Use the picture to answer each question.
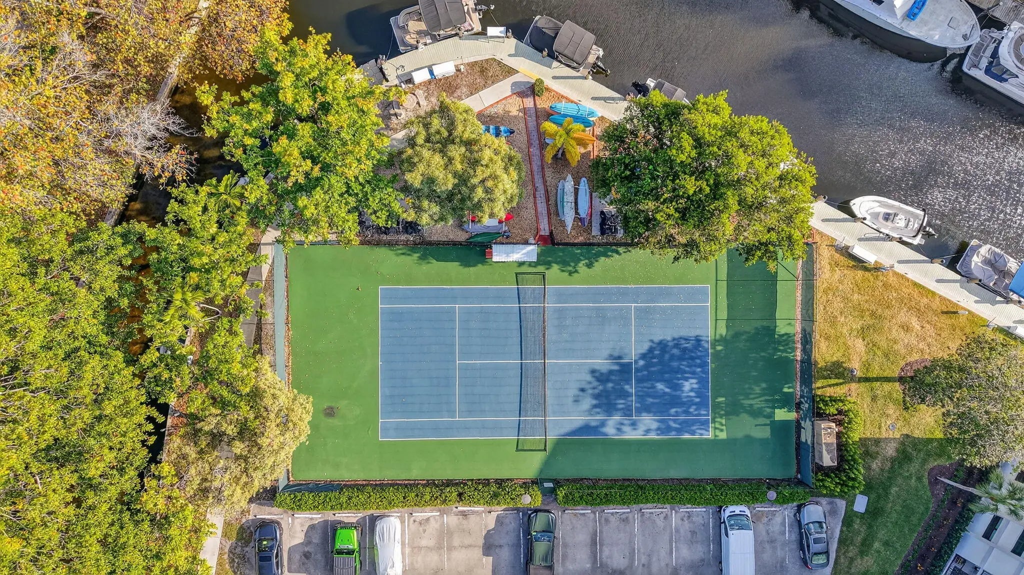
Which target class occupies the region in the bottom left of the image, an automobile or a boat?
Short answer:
automobile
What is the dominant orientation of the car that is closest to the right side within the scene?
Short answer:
from top to bottom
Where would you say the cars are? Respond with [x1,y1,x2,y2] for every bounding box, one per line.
[799,504,835,574]
[526,510,558,575]
[374,516,402,575]
[249,521,284,575]
[329,523,362,575]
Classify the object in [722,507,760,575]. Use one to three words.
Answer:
van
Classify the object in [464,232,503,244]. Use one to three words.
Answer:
boat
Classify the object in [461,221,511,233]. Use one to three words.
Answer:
boat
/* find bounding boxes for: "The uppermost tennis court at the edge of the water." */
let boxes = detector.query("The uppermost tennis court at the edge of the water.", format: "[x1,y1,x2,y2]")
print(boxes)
[288,244,796,479]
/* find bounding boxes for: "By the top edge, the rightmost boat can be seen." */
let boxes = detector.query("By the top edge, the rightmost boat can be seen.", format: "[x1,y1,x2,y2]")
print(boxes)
[957,23,1024,109]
